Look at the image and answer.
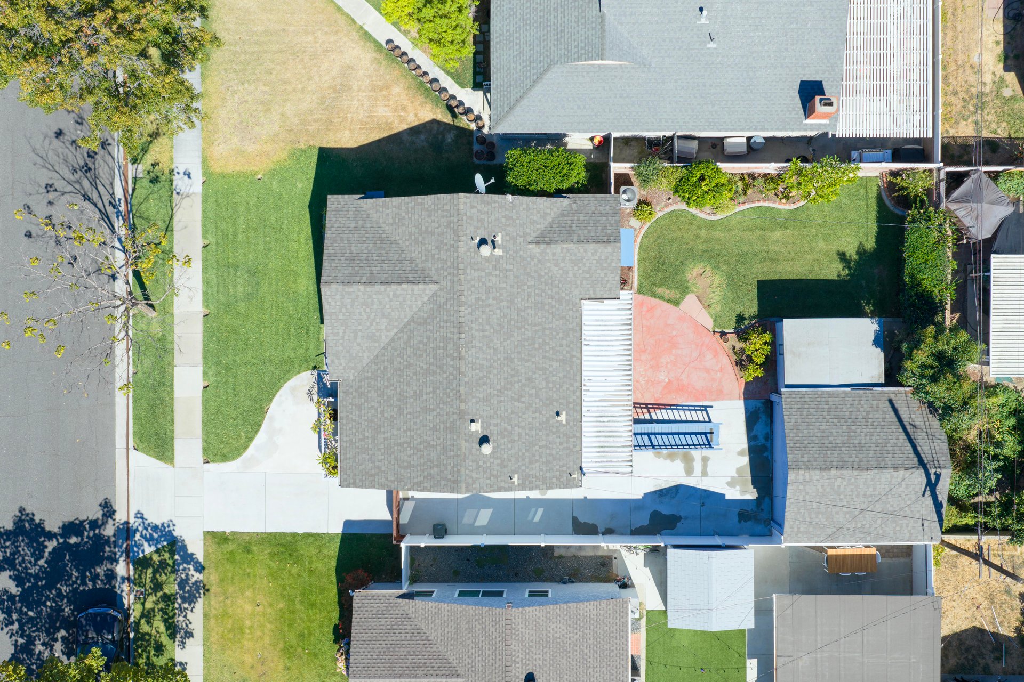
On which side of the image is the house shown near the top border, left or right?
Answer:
right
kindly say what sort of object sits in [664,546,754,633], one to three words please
shed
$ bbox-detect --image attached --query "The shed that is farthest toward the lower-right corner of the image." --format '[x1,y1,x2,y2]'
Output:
[771,594,941,682]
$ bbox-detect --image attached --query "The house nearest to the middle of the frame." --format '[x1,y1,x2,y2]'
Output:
[319,192,623,494]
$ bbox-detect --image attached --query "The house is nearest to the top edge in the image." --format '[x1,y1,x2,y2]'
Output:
[489,0,851,150]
